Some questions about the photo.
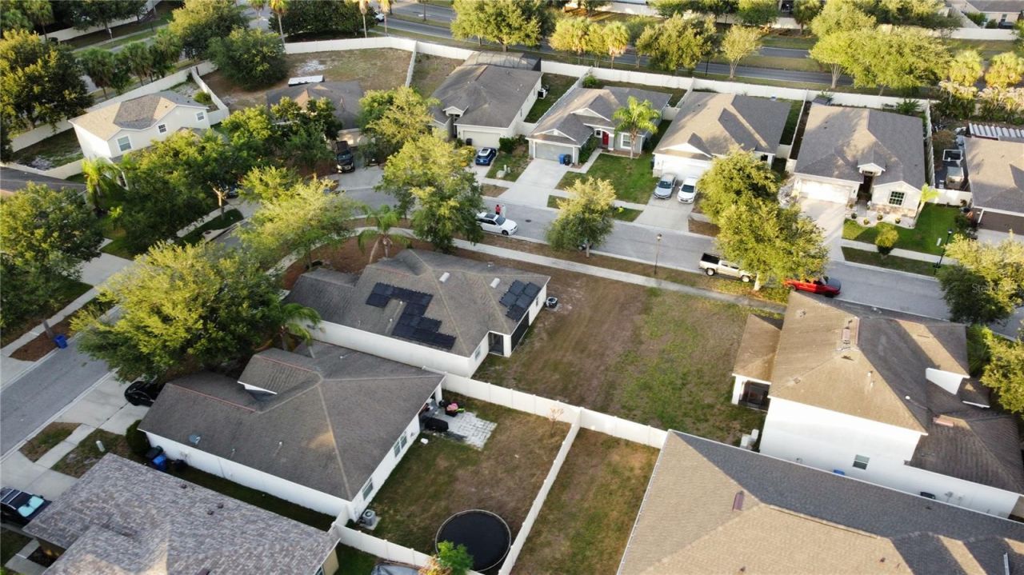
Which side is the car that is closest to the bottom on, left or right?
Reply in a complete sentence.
The car that is closest to the bottom is on the left side of the image.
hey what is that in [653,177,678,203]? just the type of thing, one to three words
car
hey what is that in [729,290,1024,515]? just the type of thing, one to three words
house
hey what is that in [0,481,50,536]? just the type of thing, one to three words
car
